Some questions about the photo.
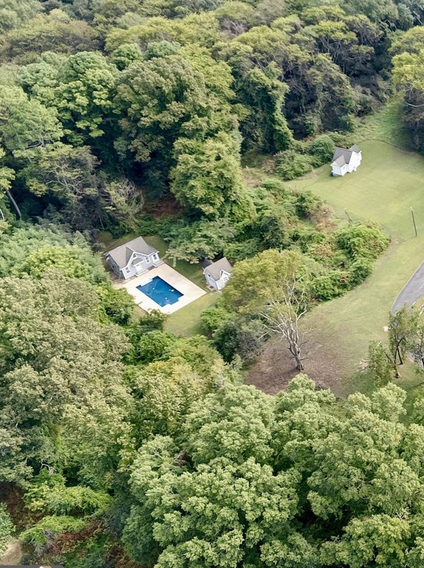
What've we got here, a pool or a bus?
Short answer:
pool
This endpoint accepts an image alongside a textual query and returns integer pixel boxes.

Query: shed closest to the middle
[202,255,240,291]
